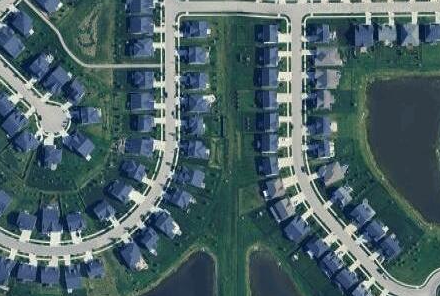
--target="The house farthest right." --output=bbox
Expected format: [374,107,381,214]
[424,22,440,47]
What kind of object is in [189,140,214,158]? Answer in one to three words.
house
